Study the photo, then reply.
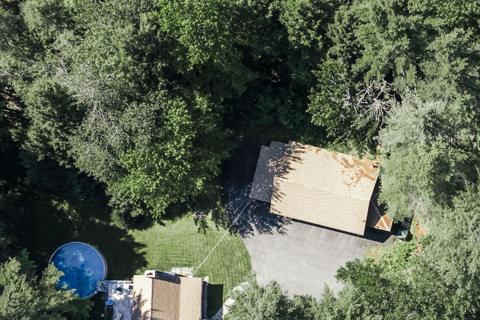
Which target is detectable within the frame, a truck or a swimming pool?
swimming pool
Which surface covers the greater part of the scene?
trees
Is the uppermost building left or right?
right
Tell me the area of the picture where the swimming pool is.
bottom left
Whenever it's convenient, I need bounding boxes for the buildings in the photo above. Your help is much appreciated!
[249,140,391,236]
[133,269,205,320]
